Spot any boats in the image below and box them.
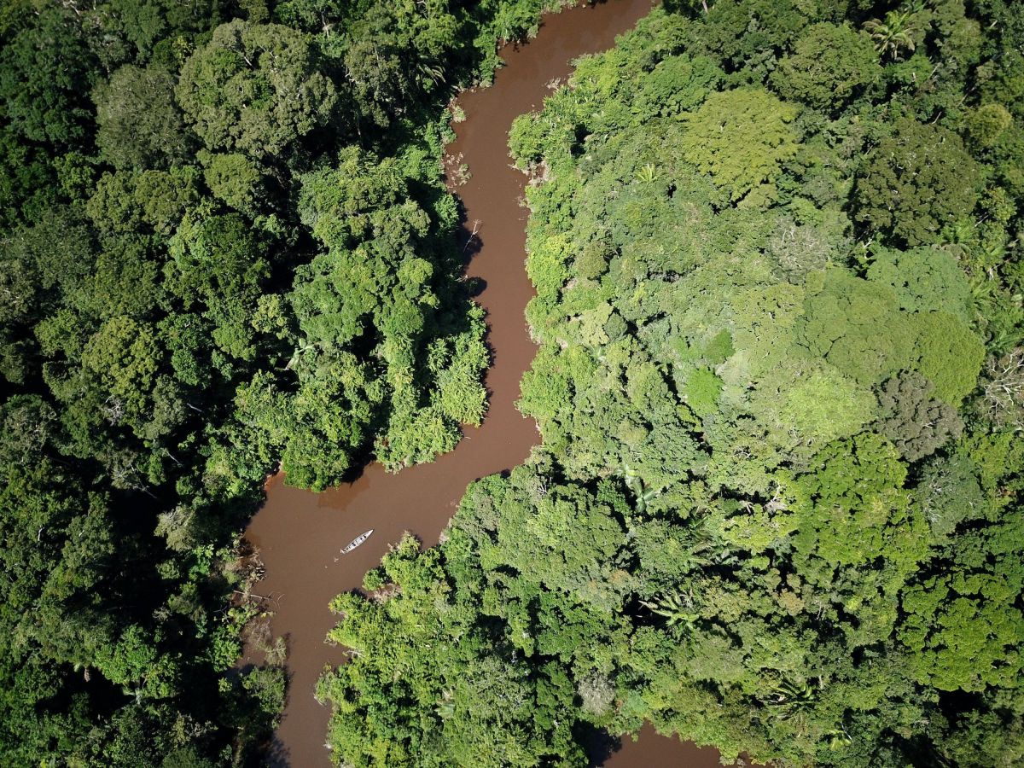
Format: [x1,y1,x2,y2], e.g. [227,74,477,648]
[338,531,372,555]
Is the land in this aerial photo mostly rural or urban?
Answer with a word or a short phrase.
rural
